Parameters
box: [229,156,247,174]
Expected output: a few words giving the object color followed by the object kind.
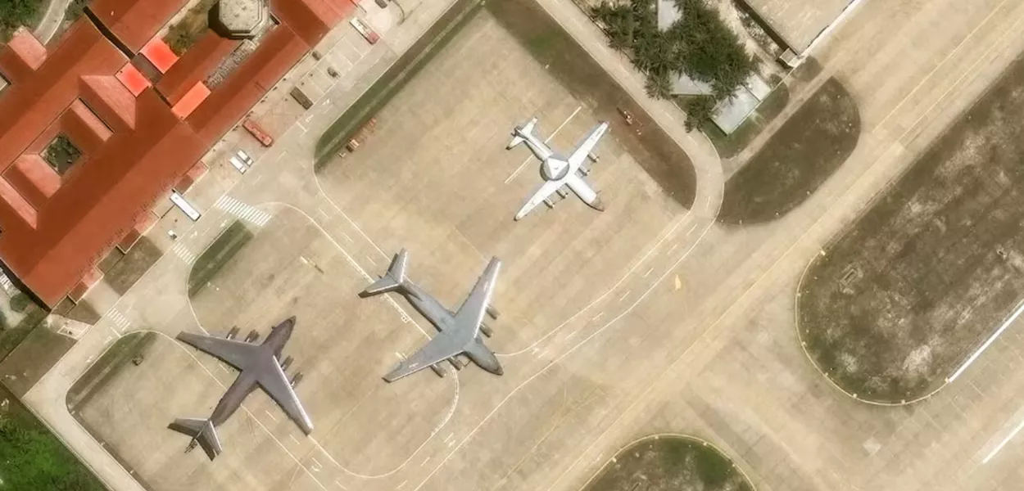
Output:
white vehicle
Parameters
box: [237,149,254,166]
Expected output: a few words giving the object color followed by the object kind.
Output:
white vehicle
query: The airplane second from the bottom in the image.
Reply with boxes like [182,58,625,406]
[362,249,503,383]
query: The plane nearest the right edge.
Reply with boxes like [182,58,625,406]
[507,114,608,218]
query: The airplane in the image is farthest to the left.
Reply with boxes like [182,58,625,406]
[172,317,309,458]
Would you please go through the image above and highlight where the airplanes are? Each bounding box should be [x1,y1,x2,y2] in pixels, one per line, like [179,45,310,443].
[362,249,503,383]
[172,317,309,458]
[507,114,608,218]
